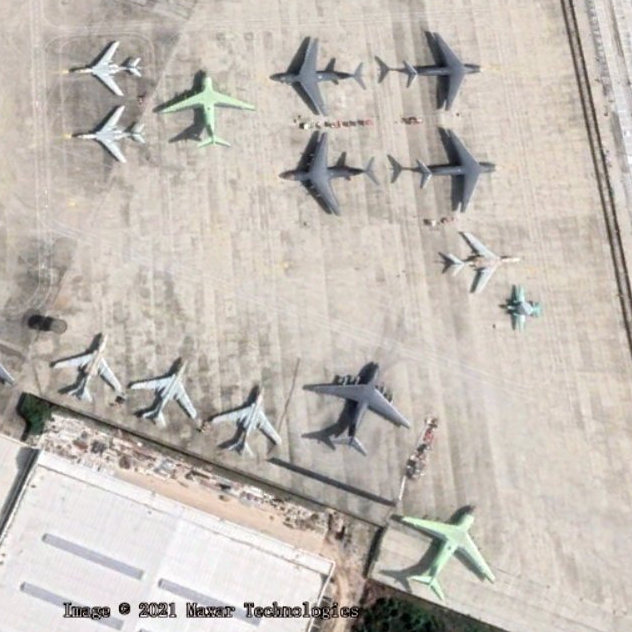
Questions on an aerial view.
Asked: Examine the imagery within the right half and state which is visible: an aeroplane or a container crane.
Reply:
aeroplane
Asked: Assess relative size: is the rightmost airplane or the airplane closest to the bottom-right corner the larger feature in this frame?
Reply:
the airplane closest to the bottom-right corner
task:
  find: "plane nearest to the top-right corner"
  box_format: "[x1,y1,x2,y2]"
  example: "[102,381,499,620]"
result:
[402,32,482,109]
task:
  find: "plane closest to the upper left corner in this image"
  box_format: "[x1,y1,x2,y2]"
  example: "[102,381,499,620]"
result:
[74,41,142,95]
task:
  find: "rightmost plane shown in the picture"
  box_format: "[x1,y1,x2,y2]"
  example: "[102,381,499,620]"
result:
[507,287,543,332]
